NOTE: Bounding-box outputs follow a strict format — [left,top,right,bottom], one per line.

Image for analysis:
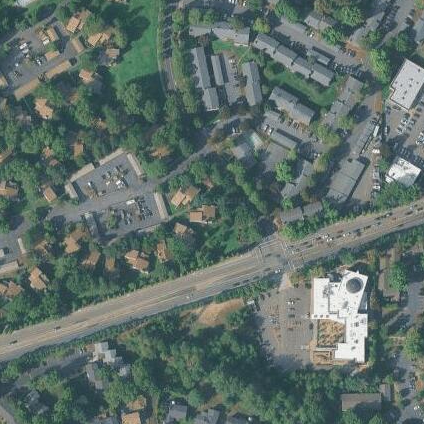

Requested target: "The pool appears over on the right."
[245,131,266,150]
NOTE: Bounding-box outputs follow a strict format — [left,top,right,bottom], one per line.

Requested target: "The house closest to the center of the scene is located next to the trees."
[190,203,215,224]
